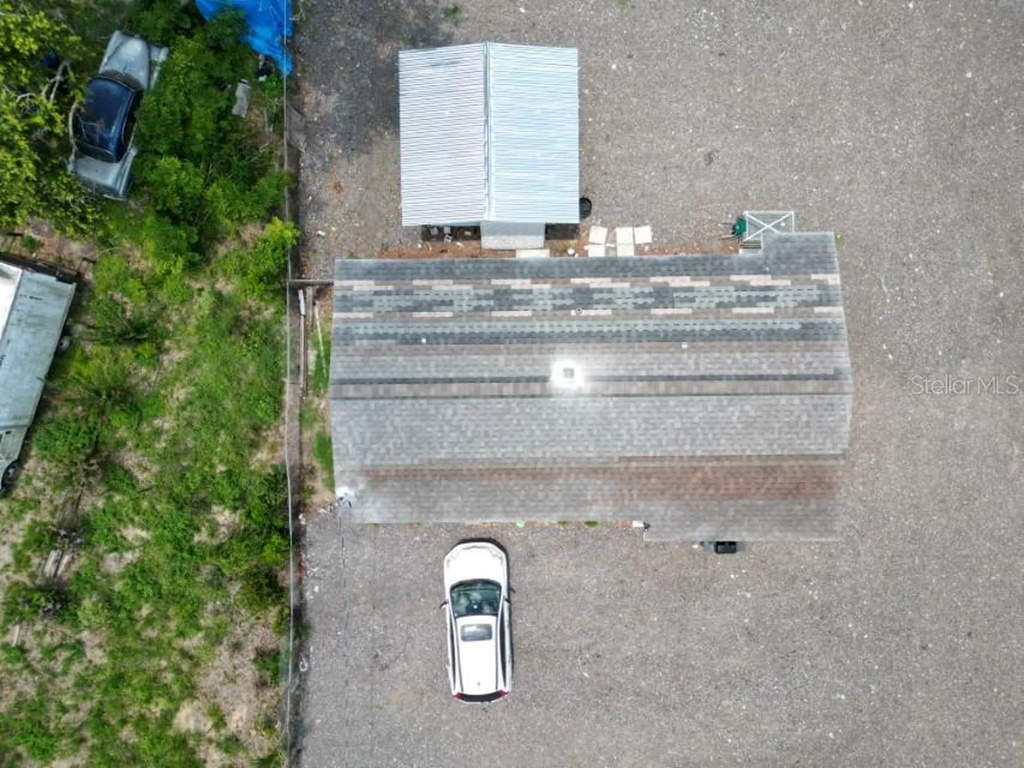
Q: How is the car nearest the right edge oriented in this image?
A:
from top to bottom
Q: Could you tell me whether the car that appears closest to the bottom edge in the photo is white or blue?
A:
white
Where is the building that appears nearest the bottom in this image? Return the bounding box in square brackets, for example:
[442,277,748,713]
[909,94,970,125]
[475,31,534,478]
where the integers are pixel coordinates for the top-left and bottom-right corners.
[328,229,852,542]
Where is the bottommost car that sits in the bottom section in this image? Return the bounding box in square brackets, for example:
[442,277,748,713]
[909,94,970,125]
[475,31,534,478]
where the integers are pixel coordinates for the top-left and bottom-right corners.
[440,540,514,706]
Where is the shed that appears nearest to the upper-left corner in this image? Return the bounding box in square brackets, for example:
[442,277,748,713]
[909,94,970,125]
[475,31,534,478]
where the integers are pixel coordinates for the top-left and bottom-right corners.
[399,38,580,229]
